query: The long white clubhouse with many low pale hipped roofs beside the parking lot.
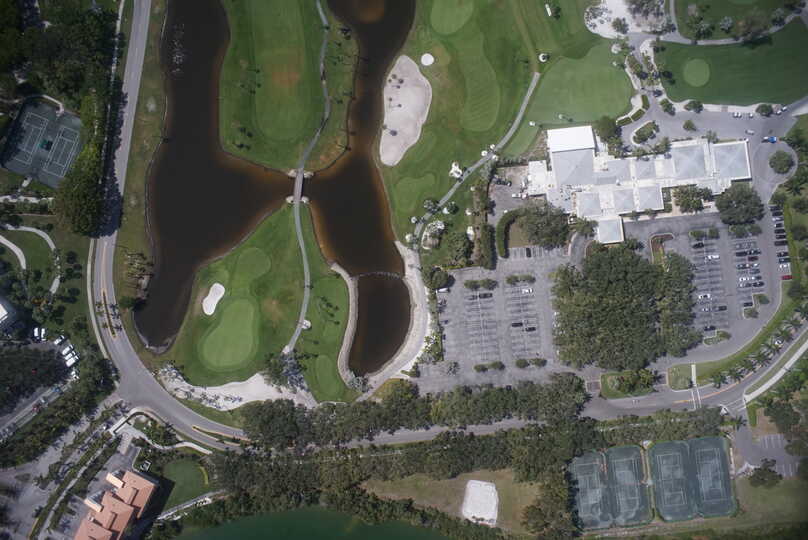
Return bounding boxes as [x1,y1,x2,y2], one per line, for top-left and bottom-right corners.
[528,126,752,246]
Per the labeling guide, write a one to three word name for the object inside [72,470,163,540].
building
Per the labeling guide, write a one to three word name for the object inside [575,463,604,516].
tennis court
